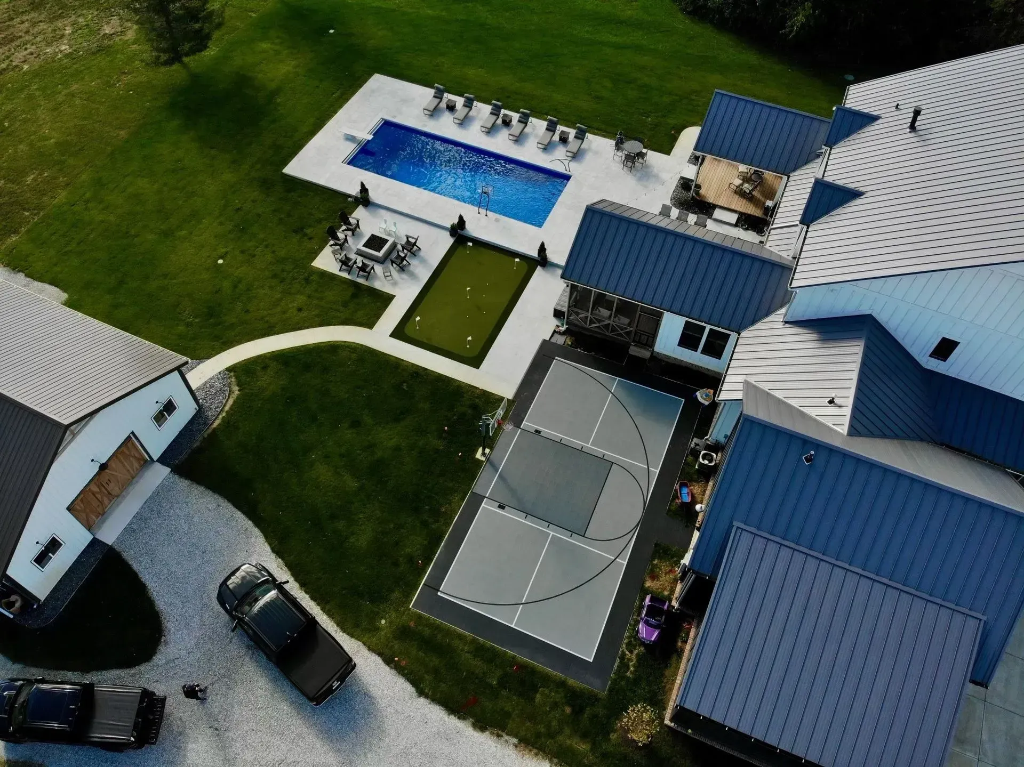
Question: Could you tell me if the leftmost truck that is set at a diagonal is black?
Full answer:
Yes, the leftmost truck that is set at a diagonal appears black.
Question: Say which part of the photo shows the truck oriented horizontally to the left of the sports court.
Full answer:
The truck oriented horizontally to the left of the sports court appears toward the bottom left of the photo.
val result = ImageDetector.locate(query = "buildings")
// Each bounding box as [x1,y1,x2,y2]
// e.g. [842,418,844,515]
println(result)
[555,40,1024,767]
[0,282,200,621]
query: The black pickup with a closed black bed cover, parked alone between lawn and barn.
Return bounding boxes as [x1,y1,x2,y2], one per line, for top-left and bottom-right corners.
[217,559,362,713]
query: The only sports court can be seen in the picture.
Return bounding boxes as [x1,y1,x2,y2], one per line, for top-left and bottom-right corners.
[406,340,699,693]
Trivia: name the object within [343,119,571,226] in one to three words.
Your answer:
swimming pool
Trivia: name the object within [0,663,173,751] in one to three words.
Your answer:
truck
